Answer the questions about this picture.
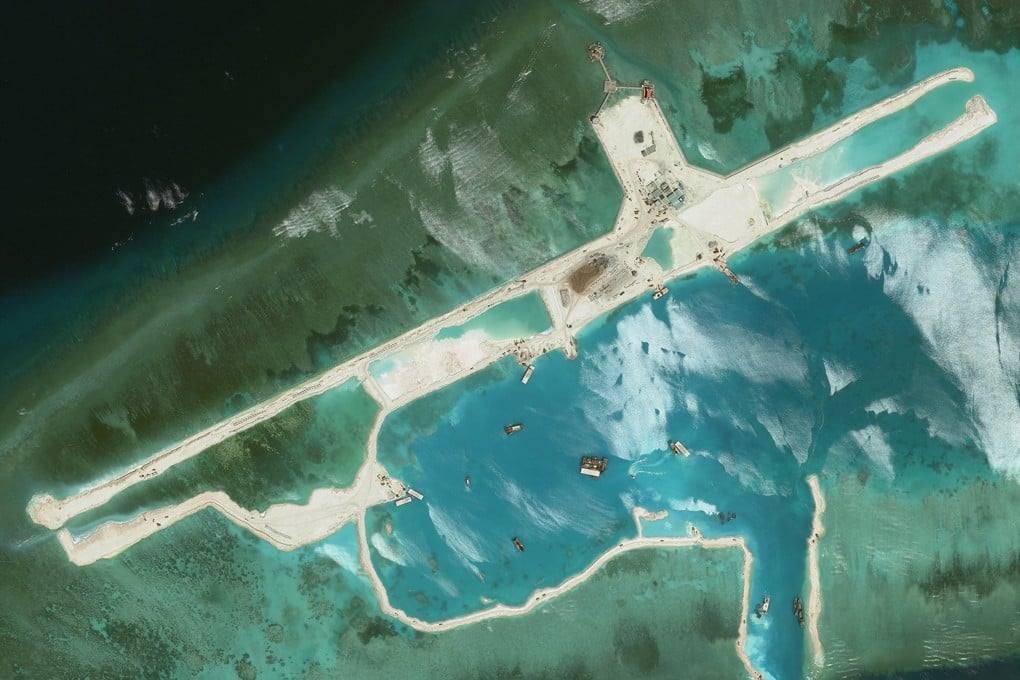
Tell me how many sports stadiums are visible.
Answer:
zero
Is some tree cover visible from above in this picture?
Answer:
No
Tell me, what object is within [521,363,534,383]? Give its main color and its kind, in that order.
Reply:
white ship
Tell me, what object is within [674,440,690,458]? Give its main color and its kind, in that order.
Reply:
white ship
